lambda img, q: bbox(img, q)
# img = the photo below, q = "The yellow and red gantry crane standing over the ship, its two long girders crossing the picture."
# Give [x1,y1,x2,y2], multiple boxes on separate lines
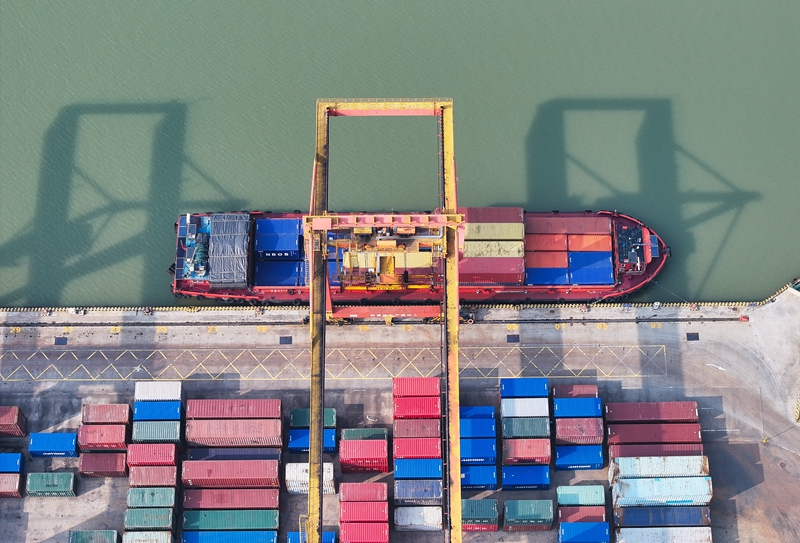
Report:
[300,97,473,543]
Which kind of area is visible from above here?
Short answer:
port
